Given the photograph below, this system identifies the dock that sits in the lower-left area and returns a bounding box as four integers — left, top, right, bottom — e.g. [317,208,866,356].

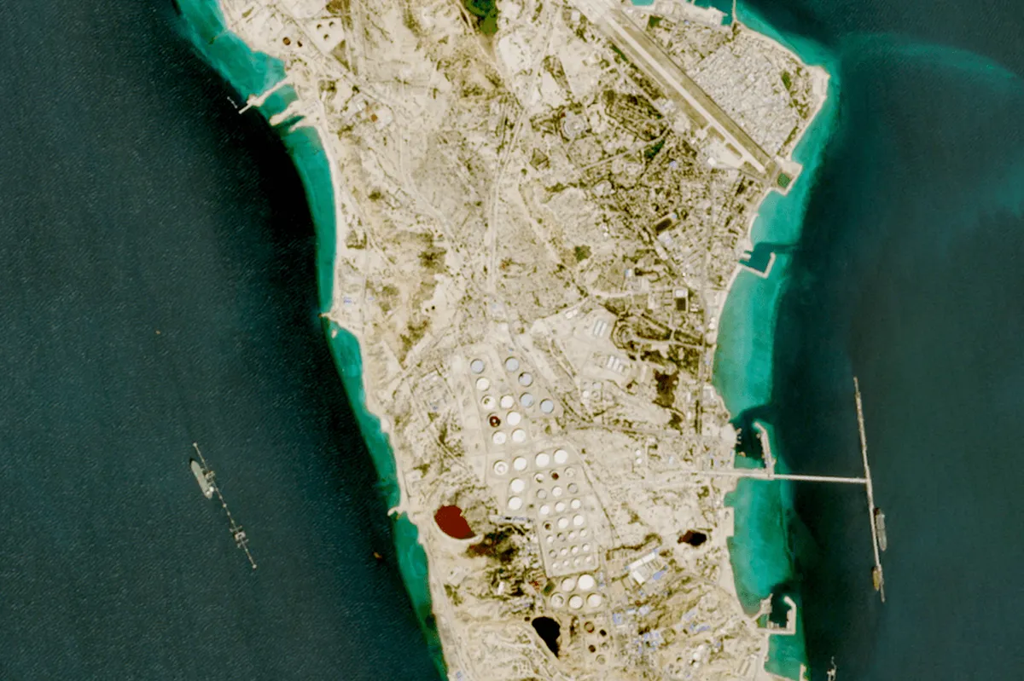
[193,443,256,568]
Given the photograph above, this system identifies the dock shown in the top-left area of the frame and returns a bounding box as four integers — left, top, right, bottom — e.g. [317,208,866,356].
[228,77,296,113]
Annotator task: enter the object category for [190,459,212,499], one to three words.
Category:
ship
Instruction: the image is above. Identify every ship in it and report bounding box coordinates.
[872,568,879,591]
[876,510,887,551]
[190,459,212,499]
